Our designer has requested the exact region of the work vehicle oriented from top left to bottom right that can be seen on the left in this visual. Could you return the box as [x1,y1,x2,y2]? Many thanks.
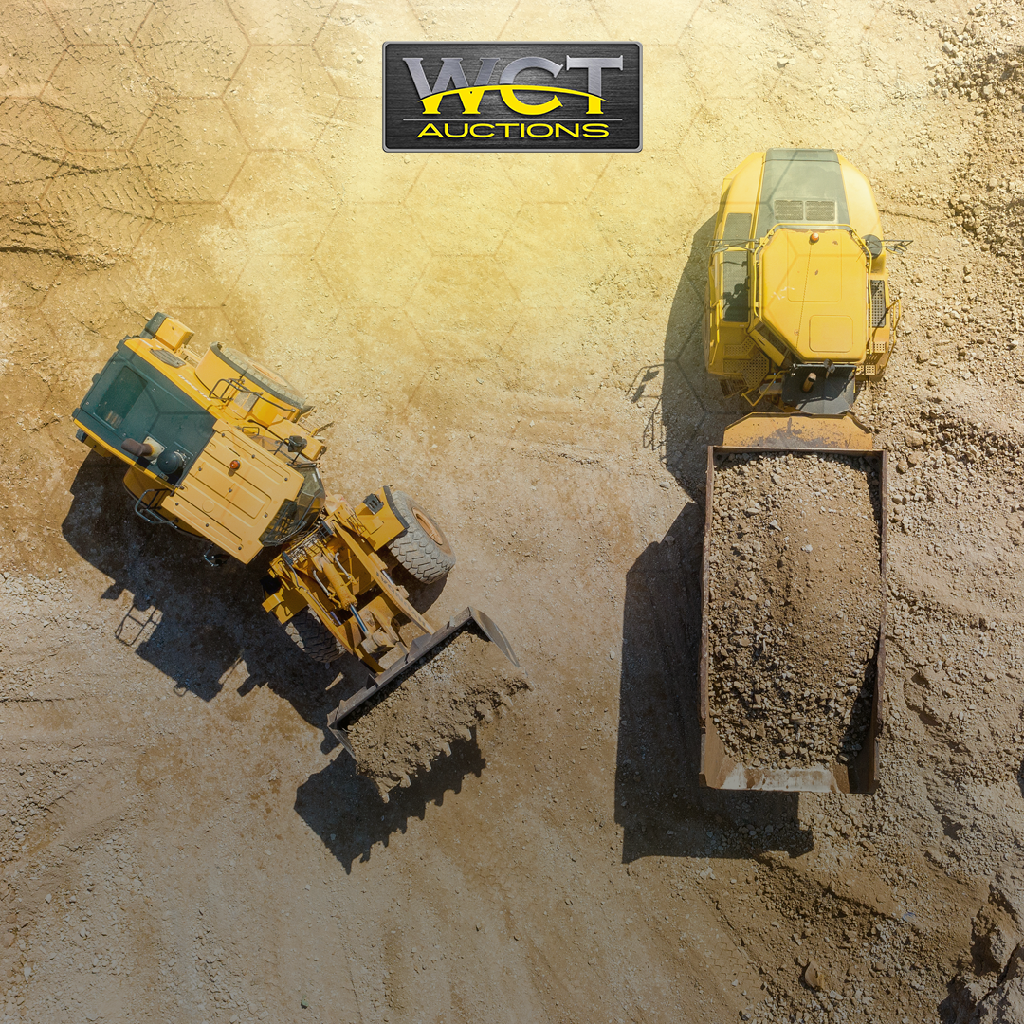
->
[61,307,534,803]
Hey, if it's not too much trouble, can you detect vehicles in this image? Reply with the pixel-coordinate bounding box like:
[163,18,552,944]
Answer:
[61,307,534,803]
[698,144,912,801]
